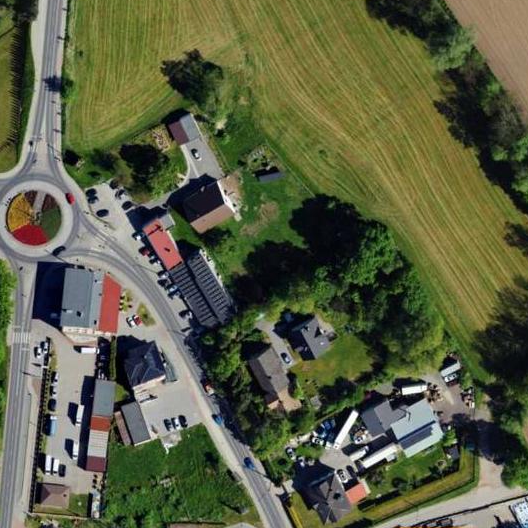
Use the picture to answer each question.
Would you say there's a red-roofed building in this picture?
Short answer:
Yes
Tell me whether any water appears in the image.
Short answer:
No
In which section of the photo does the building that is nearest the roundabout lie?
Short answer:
left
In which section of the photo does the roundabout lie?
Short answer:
left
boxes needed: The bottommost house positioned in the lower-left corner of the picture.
[39,483,69,508]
